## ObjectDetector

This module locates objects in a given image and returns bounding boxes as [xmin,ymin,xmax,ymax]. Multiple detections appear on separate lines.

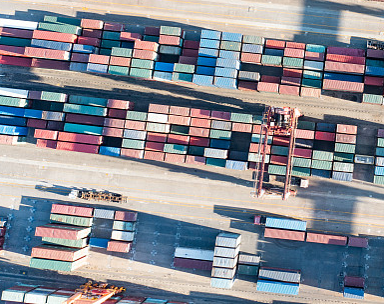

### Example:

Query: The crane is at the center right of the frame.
[254,102,308,198]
